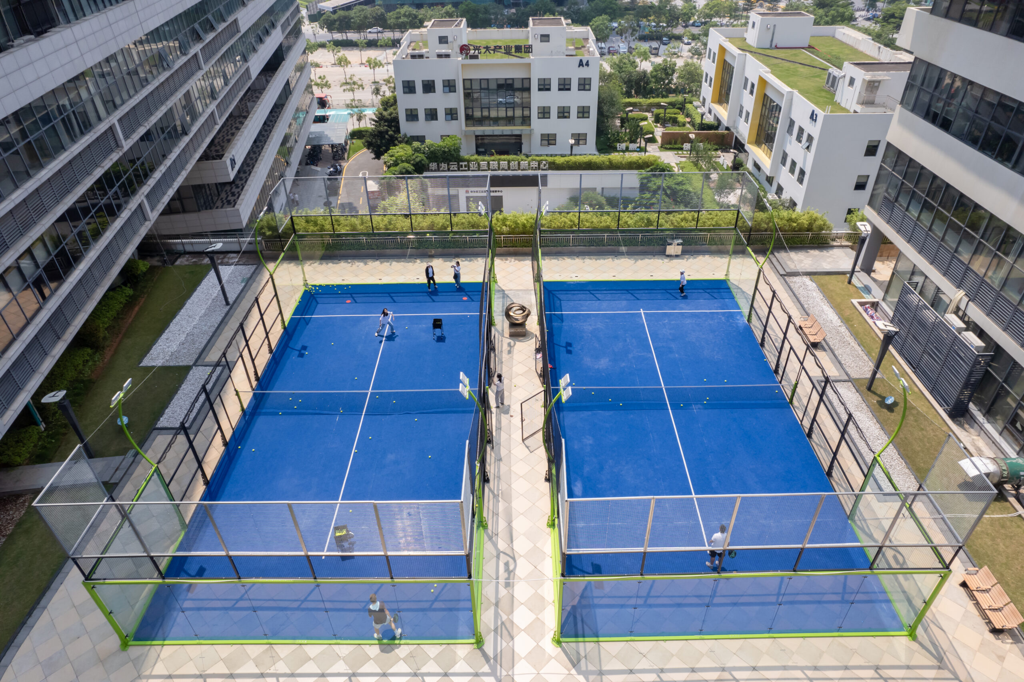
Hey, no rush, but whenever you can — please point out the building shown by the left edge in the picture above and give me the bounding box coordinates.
[0,0,323,466]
